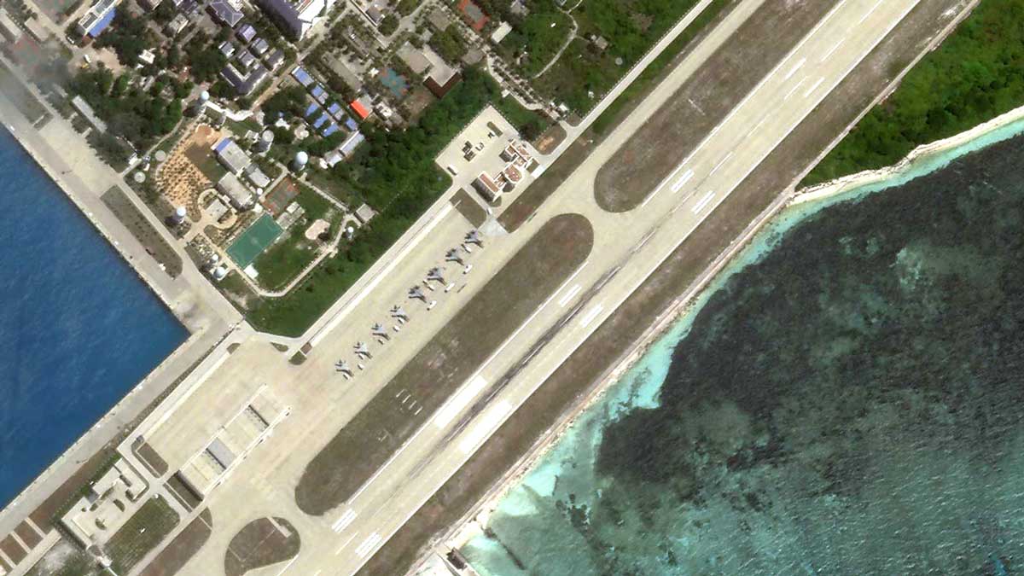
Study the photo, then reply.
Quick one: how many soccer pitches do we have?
one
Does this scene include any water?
Yes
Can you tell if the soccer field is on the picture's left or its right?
left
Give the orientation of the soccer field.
diagonally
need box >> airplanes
[466,231,482,246]
[430,269,446,284]
[392,305,408,320]
[410,285,425,301]
[356,342,371,357]
[336,360,353,375]
[373,323,389,338]
[447,249,463,264]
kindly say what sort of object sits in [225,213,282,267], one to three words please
soccer field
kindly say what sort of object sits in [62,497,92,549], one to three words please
building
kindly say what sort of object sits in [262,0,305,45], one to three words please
building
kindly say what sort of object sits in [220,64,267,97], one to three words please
house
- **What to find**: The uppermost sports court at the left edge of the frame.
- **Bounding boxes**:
[41,0,83,22]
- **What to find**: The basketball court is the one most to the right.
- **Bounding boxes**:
[457,0,490,30]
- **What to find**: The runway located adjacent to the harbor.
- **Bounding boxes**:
[279,0,921,576]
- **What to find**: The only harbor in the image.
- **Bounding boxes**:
[0,50,244,541]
